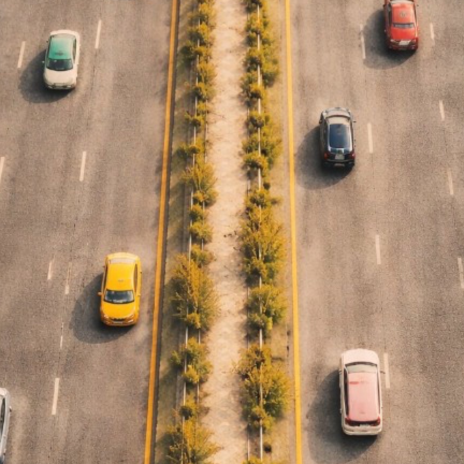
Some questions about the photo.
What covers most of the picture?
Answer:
paved ground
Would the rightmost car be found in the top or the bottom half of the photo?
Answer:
top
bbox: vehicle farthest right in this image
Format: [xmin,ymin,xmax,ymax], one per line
[382,0,420,50]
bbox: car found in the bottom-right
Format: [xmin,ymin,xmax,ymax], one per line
[337,349,385,435]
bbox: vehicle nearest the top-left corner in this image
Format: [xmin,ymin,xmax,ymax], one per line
[41,30,79,89]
